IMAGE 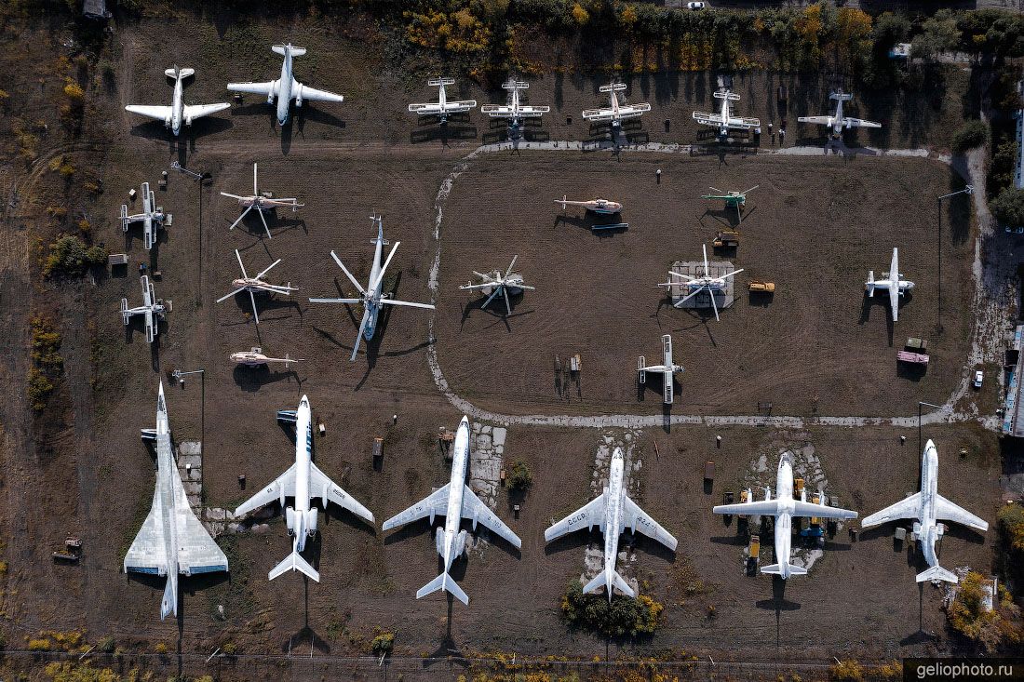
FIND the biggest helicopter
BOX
[306,208,436,362]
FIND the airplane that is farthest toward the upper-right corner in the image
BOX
[797,89,882,137]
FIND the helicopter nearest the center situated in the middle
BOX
[456,254,535,315]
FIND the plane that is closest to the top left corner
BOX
[124,66,229,137]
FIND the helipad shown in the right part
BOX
[672,262,734,308]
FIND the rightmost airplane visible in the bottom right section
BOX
[862,439,990,584]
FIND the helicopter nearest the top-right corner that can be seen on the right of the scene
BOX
[700,187,761,225]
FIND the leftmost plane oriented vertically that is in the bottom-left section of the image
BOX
[123,376,229,624]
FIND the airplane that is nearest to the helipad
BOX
[639,336,683,404]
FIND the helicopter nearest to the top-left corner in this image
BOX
[220,161,304,238]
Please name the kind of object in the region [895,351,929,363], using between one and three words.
vehicle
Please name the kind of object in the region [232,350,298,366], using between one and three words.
helicopter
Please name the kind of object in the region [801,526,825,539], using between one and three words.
vehicle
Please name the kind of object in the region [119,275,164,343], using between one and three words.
airplane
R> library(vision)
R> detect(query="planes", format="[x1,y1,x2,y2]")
[119,275,164,343]
[123,376,229,624]
[384,416,522,604]
[124,66,229,137]
[118,182,165,250]
[481,80,549,124]
[639,336,683,404]
[862,439,990,584]
[407,79,475,122]
[713,449,856,582]
[236,395,374,581]
[228,39,345,127]
[866,248,914,321]
[797,89,882,137]
[545,447,675,602]
[582,83,650,127]
[693,90,761,135]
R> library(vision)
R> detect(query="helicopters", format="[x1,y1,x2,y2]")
[232,350,298,366]
[456,254,535,315]
[552,196,622,214]
[700,187,761,225]
[656,244,745,322]
[217,248,299,323]
[306,208,436,362]
[220,161,304,238]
